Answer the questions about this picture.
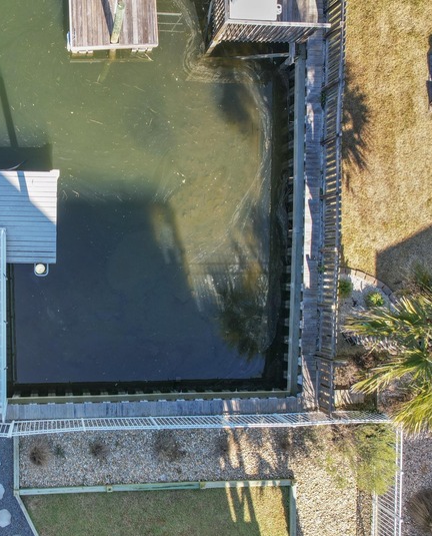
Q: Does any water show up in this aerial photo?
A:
Yes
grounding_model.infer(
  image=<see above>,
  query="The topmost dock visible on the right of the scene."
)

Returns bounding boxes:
[204,0,339,68]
